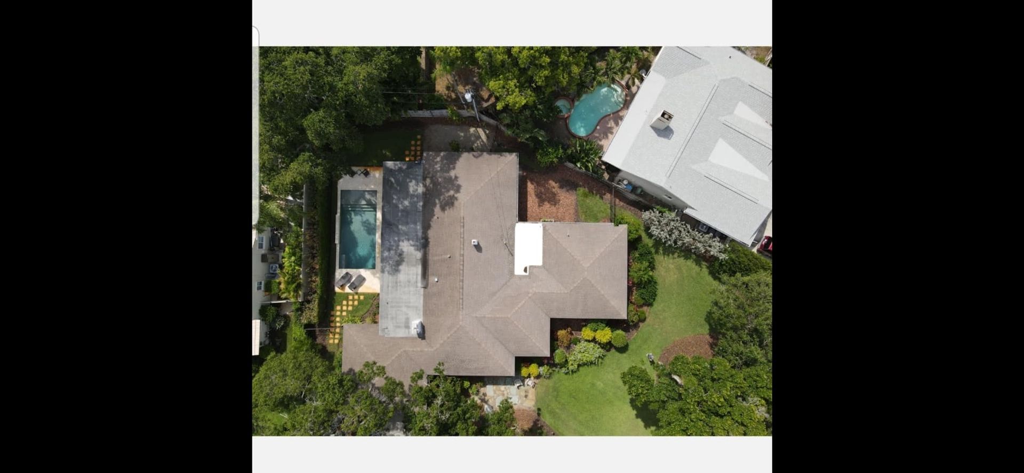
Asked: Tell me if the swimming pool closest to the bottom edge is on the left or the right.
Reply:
left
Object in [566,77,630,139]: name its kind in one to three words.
swimming pool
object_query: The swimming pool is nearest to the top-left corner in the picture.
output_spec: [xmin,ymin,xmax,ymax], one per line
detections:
[334,187,380,272]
